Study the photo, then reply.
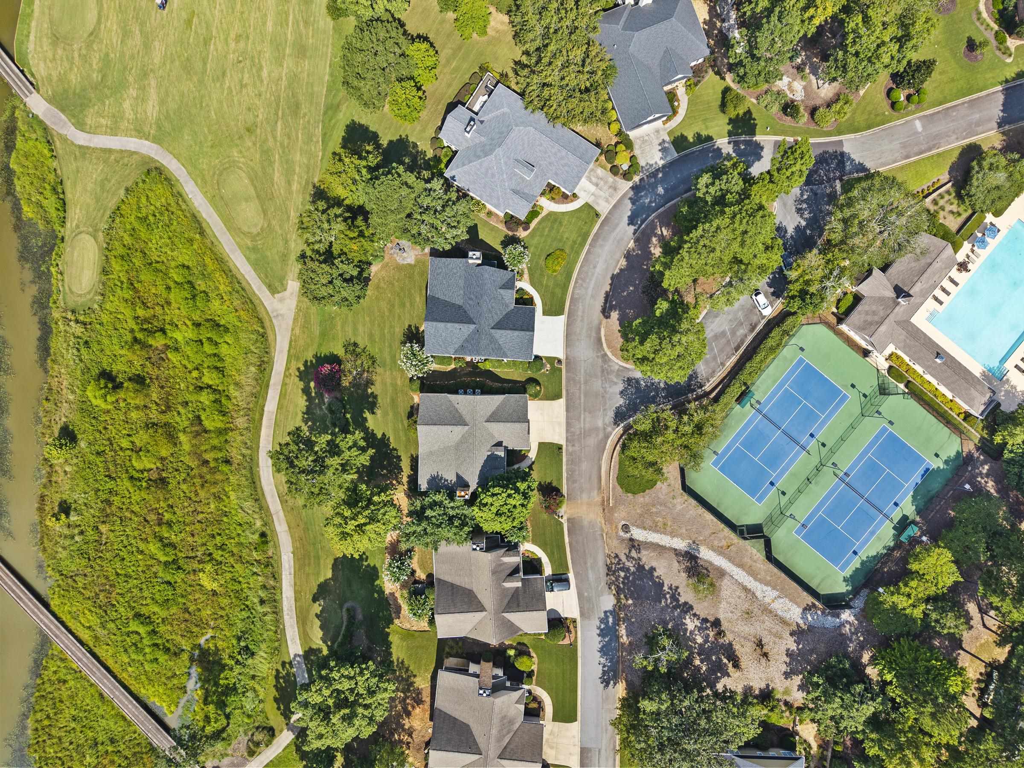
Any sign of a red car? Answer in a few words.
No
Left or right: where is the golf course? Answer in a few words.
left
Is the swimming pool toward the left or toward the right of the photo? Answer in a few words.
right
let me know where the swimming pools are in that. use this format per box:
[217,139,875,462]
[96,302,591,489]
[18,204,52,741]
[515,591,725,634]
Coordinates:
[928,216,1024,381]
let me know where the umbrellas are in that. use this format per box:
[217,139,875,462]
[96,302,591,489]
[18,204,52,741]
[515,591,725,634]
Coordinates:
[970,237,987,251]
[981,225,997,240]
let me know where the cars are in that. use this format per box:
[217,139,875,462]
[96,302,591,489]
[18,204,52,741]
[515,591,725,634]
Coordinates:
[777,245,798,272]
[546,579,572,594]
[749,289,771,316]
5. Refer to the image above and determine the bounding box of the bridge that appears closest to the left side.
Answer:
[0,41,39,101]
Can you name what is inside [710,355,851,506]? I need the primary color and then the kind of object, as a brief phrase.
blue tennis court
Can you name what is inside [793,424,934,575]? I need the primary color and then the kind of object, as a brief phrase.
blue tennis court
